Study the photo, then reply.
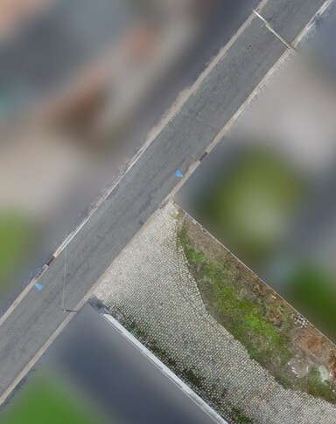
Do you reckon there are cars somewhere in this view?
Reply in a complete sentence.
No, I can see no car in this picture.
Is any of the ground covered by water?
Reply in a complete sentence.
No, water can't be seen anywhere here.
